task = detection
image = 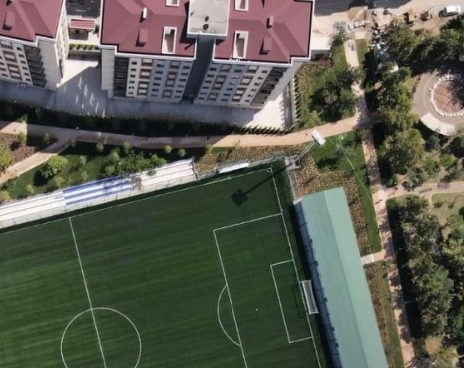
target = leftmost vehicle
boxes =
[395,1,421,20]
